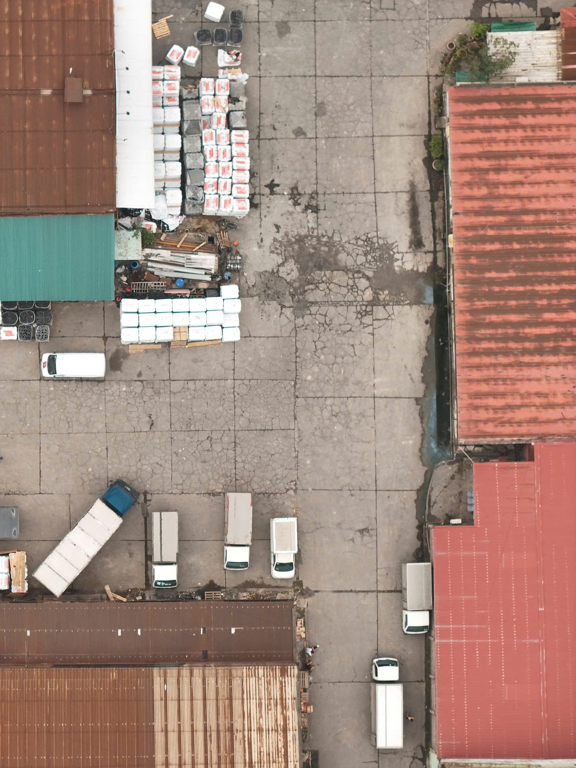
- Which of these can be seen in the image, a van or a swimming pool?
van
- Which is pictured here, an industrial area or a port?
industrial area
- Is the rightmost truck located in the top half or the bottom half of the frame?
bottom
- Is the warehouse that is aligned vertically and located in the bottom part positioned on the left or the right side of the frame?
right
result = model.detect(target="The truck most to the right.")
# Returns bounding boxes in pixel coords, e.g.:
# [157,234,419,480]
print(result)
[399,561,433,633]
